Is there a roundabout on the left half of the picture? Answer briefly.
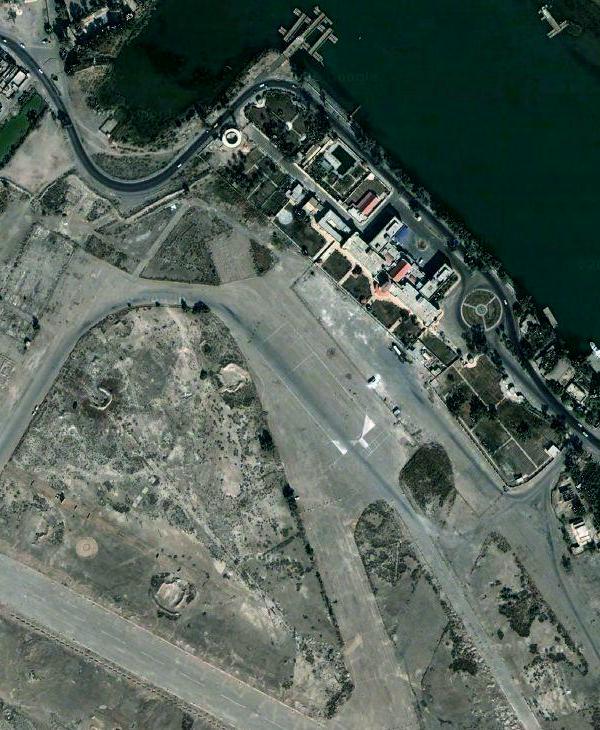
No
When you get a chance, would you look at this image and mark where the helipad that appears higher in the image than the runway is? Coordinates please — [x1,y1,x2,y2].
[76,536,98,557]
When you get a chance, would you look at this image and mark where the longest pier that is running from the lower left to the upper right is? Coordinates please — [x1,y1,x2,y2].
[260,6,332,78]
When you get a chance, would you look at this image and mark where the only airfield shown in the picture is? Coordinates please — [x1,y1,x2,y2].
[0,250,571,730]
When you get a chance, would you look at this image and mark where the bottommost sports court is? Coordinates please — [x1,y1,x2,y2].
[420,331,460,366]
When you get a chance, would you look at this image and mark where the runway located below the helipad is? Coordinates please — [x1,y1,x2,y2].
[0,556,340,730]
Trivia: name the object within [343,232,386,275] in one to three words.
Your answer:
building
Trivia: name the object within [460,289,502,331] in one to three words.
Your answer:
roundabout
